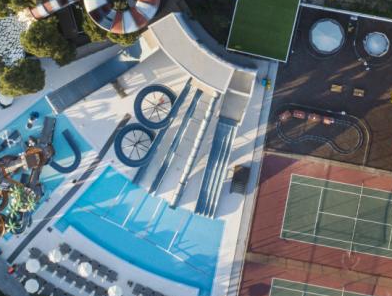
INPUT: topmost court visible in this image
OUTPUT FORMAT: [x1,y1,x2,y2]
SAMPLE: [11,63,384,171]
[247,154,392,276]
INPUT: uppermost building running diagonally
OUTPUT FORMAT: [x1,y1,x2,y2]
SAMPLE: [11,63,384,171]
[148,12,236,94]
